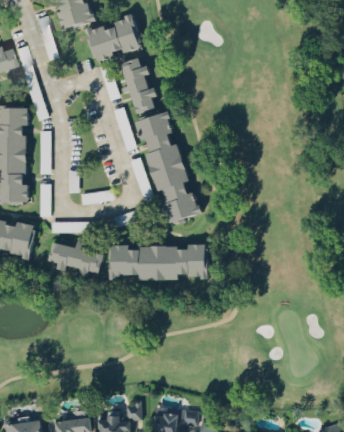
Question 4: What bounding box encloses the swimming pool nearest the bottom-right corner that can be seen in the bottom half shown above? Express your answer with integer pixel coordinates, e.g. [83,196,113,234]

[296,418,322,432]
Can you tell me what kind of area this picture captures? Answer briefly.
golf course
